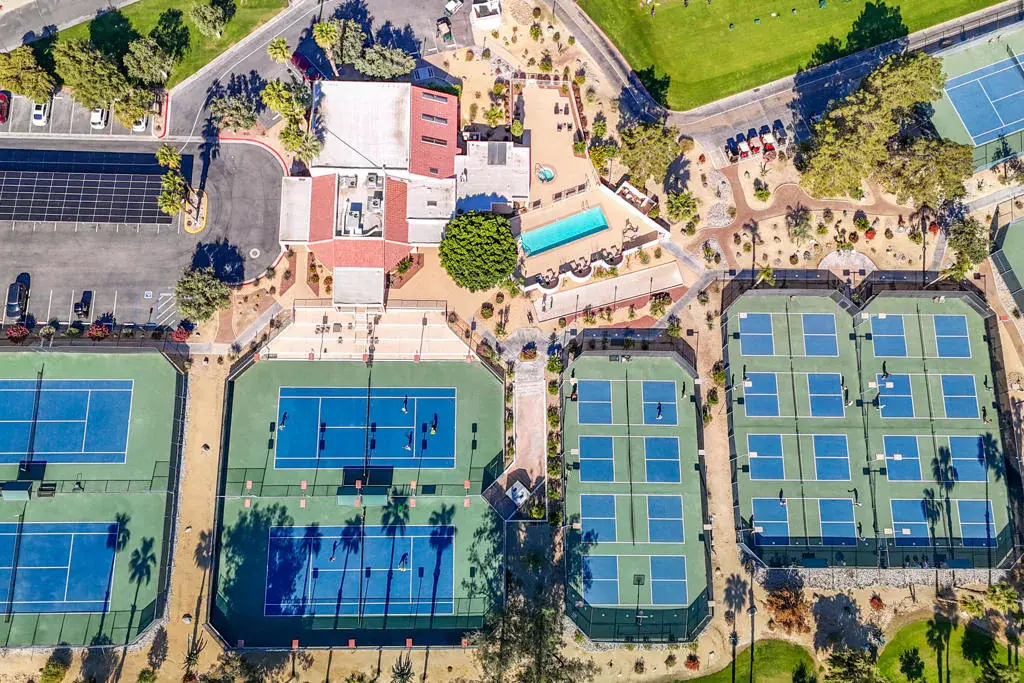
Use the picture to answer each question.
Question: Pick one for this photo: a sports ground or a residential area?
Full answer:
It's a sports ground.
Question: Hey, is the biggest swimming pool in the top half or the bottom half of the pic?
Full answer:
You can find the biggest swimming pool in the top half.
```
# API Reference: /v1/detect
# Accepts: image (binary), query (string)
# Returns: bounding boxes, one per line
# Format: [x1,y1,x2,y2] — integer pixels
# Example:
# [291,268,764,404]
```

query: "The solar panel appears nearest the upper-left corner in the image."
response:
[0,174,174,223]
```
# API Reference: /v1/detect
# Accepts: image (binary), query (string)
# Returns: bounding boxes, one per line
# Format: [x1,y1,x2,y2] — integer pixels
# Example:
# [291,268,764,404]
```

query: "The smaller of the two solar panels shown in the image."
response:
[488,143,505,166]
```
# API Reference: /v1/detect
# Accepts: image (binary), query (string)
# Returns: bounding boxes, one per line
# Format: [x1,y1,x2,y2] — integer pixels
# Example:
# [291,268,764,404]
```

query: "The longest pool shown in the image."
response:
[518,201,611,259]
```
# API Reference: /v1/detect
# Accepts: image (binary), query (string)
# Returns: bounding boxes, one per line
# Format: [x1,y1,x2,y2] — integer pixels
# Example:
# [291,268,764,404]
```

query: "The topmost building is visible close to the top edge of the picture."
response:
[472,0,503,41]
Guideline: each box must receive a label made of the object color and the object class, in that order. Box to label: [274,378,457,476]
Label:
blue tennis court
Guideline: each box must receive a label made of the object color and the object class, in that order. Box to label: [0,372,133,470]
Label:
blue tennis court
